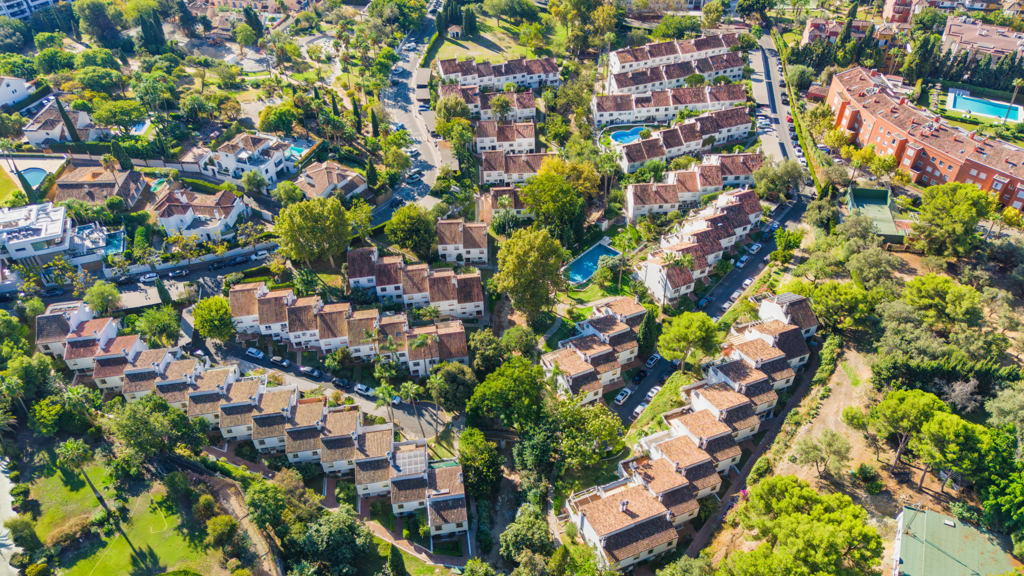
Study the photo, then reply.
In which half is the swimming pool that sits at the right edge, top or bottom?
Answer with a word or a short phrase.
top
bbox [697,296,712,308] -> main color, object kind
blue vehicle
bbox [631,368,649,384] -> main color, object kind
black car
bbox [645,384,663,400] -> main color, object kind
white car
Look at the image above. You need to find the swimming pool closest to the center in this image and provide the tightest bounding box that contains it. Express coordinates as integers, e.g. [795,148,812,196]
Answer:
[565,241,622,283]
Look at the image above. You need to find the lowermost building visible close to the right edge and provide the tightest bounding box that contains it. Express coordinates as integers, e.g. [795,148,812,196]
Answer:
[889,506,1024,576]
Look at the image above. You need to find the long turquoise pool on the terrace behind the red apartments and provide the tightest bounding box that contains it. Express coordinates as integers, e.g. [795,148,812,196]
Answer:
[949,93,1022,121]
